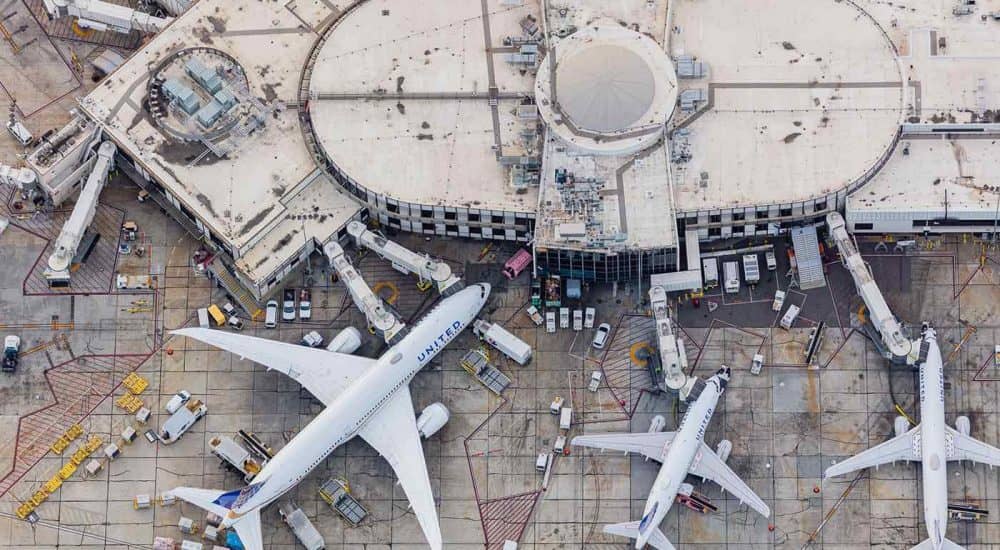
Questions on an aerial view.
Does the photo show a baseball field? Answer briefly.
No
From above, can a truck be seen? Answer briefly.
Yes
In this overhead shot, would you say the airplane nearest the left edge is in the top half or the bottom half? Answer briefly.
bottom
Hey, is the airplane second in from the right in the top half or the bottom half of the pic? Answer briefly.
bottom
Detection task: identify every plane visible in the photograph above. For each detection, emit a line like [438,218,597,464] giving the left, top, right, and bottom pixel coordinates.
[568,367,771,550]
[169,284,491,550]
[825,327,1000,550]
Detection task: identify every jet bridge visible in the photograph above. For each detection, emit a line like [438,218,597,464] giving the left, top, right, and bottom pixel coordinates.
[646,271,708,411]
[322,240,418,342]
[46,139,119,297]
[347,219,467,300]
[39,0,177,40]
[824,213,932,371]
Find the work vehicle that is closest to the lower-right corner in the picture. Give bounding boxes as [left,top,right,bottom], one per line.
[947,503,990,520]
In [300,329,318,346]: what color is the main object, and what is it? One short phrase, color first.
white work vehicle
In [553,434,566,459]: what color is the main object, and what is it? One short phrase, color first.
white vehicle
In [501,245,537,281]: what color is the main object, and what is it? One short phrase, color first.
pink truck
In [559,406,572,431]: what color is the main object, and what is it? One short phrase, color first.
white vehicle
